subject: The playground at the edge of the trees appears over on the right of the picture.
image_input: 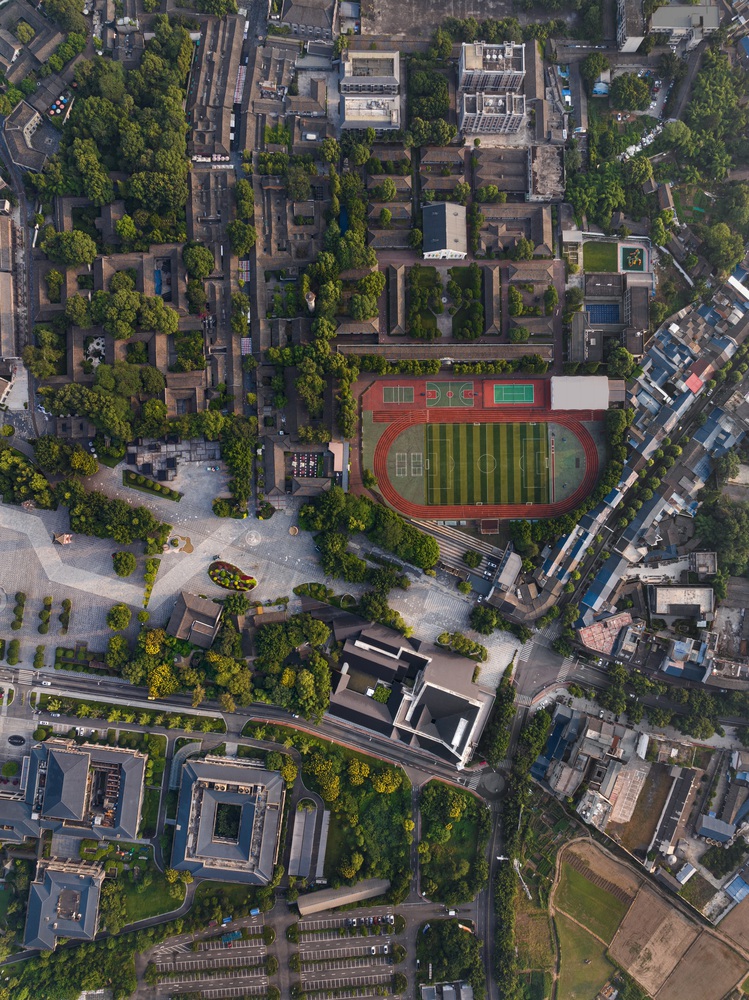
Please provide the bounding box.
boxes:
[618,242,648,272]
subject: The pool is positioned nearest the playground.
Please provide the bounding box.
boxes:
[584,301,621,326]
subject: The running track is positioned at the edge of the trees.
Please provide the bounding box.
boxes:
[373,409,627,520]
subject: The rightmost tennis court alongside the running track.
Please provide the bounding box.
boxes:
[483,380,546,408]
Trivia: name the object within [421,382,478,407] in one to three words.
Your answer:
basketball court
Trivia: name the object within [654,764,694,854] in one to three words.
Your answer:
barn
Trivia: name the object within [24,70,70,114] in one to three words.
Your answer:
house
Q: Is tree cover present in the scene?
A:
Yes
